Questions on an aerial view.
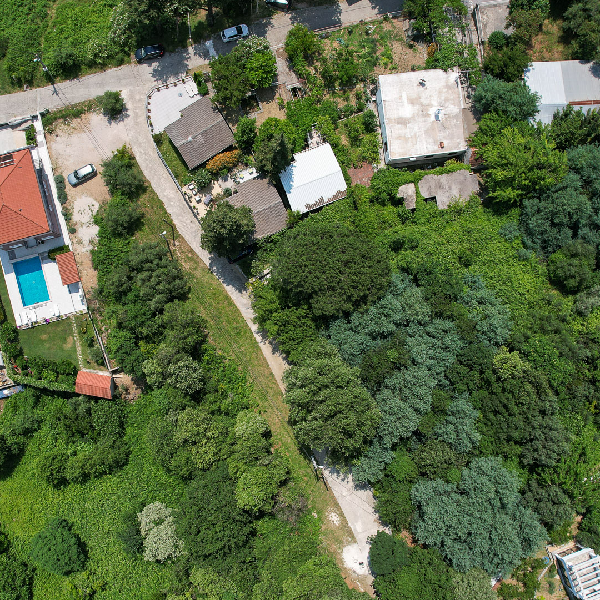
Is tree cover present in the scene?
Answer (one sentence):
Yes, there is tree cover in the image.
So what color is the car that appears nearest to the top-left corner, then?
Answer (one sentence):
From above, the car that appears nearest to the top-left corner appears black.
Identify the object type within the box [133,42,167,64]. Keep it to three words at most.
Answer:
car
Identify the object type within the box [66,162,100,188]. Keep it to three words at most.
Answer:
car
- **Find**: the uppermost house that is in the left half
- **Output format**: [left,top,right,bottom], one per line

[165,95,235,169]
